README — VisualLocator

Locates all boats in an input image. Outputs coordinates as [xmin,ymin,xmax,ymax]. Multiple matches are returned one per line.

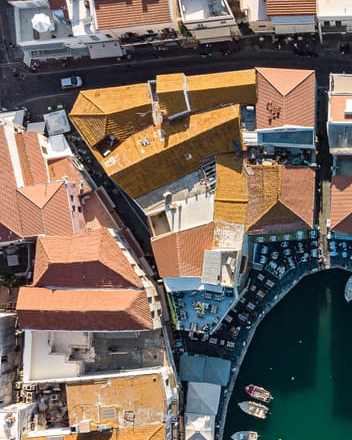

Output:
[235,402,269,419]
[344,277,352,302]
[242,387,272,404]
[222,431,260,440]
